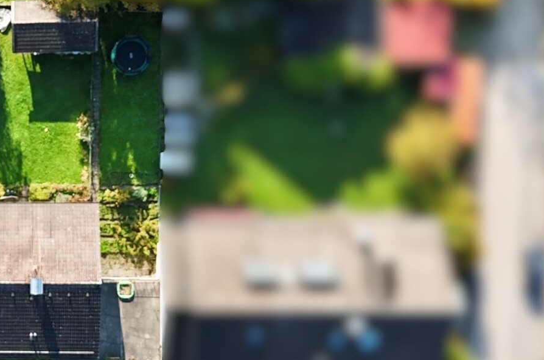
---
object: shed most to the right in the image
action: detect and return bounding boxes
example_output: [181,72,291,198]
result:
[443,61,481,146]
